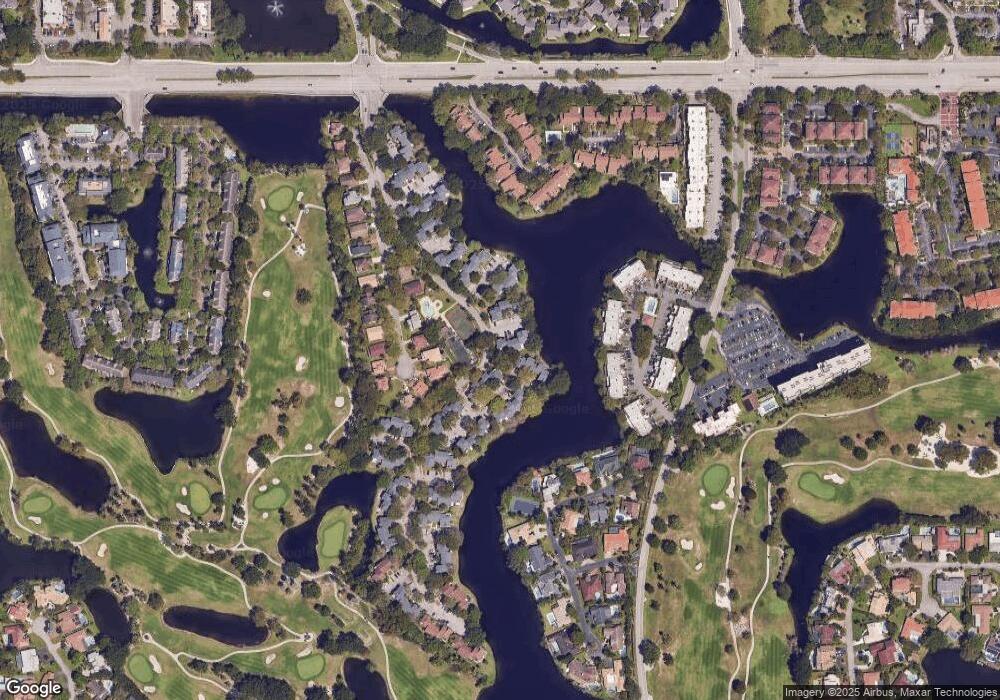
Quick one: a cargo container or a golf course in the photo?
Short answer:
golf course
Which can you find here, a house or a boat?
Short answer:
house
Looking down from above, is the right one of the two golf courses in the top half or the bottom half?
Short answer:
bottom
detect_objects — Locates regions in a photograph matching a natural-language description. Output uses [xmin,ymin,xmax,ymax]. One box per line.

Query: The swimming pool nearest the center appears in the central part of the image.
[420,297,441,319]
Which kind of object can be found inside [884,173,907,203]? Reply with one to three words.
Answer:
swimming pool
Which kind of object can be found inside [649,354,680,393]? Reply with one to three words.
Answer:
building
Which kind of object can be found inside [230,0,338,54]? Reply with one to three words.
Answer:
pond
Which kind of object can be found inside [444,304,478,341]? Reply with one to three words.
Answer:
tennis court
